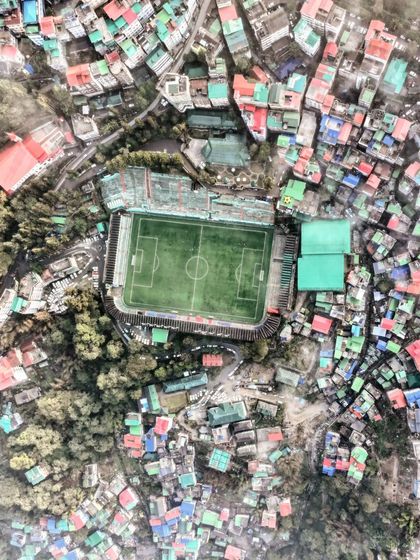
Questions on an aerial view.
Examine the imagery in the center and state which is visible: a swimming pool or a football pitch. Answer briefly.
football pitch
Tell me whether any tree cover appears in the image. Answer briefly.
Yes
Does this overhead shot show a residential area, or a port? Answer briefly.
residential area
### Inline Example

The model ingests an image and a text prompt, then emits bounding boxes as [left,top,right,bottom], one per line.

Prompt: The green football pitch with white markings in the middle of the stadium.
[130,218,266,318]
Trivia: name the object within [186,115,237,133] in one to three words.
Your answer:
building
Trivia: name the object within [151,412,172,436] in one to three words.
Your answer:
house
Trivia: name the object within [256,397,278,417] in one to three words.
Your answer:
house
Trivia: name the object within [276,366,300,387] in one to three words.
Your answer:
building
